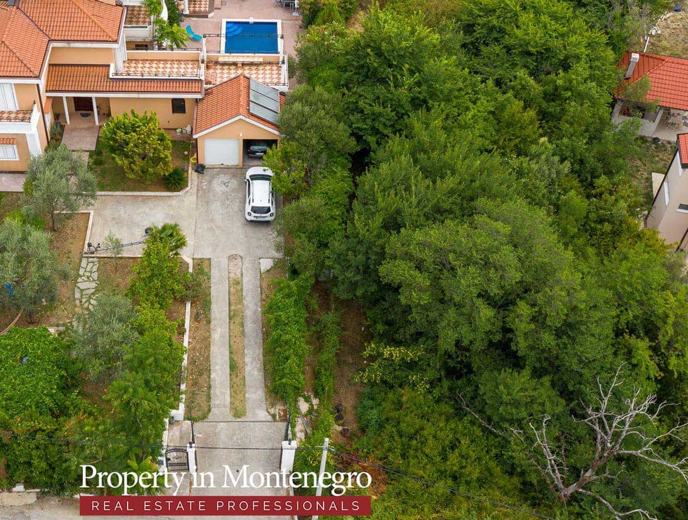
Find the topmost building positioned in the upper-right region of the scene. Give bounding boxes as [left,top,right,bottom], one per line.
[618,50,688,142]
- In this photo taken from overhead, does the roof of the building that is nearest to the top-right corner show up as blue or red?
red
